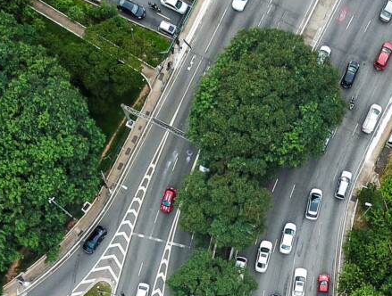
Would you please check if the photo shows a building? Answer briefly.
No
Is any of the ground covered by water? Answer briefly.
No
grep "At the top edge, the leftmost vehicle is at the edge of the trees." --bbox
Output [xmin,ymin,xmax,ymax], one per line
[116,0,146,20]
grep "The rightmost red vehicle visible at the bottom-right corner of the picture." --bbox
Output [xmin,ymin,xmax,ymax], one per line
[317,273,331,296]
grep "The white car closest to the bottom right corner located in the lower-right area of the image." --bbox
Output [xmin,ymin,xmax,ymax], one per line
[292,269,307,296]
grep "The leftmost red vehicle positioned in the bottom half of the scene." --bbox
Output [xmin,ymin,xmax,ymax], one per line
[159,184,178,214]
